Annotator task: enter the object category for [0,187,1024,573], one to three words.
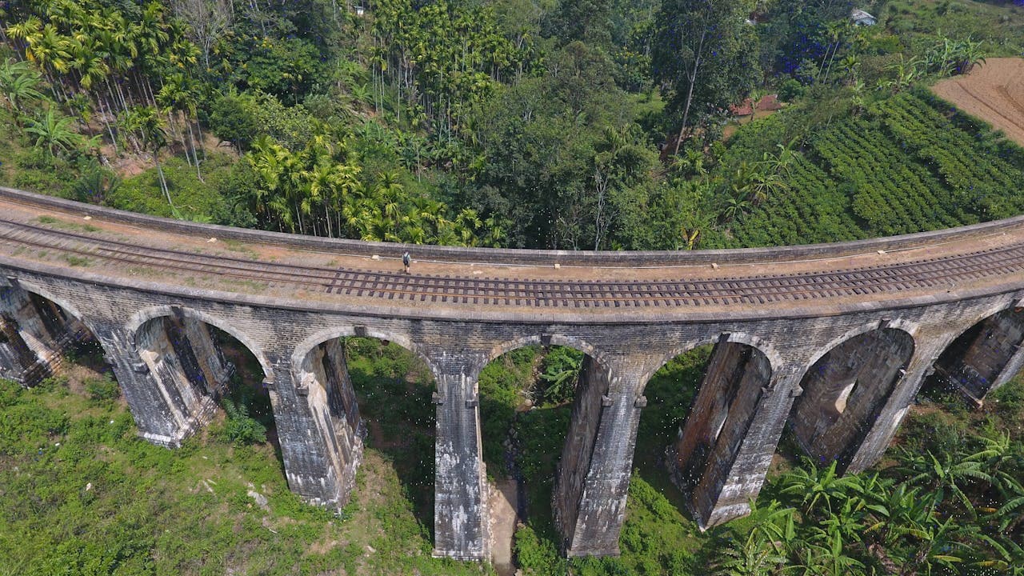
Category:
bridge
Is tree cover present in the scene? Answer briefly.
Yes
